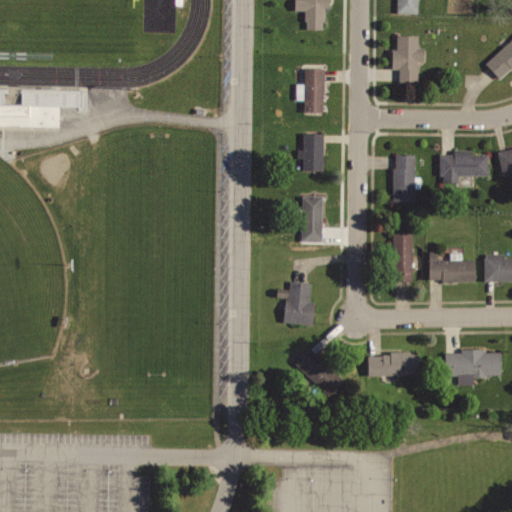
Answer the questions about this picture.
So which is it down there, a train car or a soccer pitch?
soccer pitch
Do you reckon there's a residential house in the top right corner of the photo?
Yes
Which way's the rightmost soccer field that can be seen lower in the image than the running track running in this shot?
from top to bottom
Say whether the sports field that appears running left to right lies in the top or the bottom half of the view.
top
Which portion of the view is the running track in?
top left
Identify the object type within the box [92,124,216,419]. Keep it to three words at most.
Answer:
soccer field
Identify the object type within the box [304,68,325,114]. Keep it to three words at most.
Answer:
house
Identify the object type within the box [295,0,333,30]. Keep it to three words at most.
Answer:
house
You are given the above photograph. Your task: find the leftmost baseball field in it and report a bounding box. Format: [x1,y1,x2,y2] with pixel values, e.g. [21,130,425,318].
[0,158,68,366]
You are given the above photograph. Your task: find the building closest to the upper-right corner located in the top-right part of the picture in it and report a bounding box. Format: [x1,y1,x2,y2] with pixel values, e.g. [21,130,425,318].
[482,42,512,86]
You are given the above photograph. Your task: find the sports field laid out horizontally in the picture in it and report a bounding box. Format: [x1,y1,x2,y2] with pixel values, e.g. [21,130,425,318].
[0,0,191,68]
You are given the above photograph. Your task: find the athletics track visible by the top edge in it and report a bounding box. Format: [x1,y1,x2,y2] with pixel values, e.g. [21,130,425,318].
[0,0,214,89]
